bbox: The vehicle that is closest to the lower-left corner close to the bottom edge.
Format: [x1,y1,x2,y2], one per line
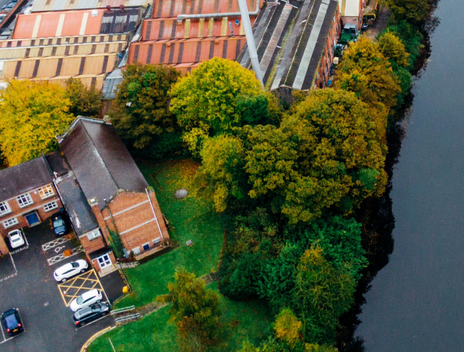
[3,307,23,334]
